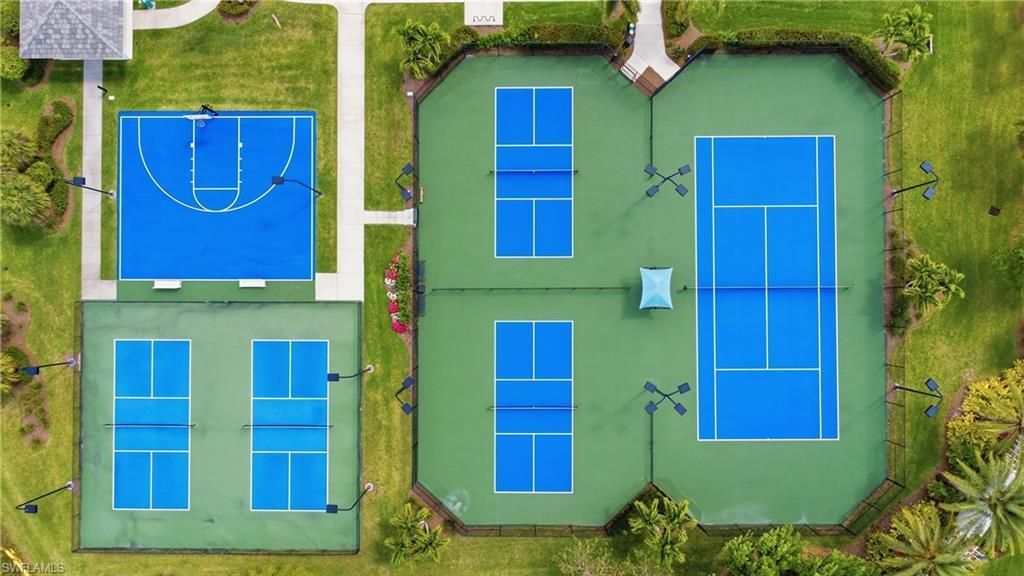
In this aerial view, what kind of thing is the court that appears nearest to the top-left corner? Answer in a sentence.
In the photo, the court that appears nearest to the top-left corner shows up as a basketball court.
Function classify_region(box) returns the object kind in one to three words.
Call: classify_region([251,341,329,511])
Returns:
sports court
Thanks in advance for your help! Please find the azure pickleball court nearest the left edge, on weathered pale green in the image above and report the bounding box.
[112,340,191,510]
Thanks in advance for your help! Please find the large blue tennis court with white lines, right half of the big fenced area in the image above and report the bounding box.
[696,137,839,440]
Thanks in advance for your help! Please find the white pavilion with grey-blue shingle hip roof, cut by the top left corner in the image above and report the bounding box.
[19,0,133,61]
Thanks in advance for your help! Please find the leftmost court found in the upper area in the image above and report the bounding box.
[115,110,317,280]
